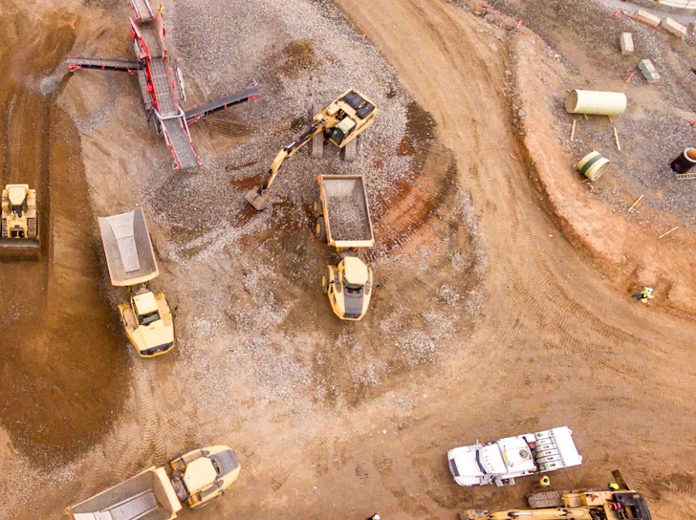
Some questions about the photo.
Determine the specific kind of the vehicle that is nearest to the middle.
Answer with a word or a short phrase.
truck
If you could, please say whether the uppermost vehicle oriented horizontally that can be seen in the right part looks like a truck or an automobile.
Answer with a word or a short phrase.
truck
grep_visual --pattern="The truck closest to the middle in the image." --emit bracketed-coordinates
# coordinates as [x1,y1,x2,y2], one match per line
[316,176,379,322]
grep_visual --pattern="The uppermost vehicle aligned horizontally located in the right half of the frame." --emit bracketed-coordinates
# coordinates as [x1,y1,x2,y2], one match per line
[443,429,581,487]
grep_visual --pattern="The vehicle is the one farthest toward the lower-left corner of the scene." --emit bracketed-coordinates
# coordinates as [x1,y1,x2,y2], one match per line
[69,446,235,520]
